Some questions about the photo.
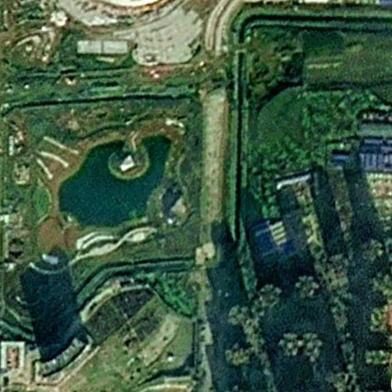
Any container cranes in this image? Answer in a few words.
No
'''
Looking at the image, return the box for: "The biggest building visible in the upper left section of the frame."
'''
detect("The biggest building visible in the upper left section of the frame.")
[78,41,128,53]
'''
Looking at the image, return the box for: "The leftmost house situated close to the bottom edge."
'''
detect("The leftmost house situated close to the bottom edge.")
[0,341,27,378]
